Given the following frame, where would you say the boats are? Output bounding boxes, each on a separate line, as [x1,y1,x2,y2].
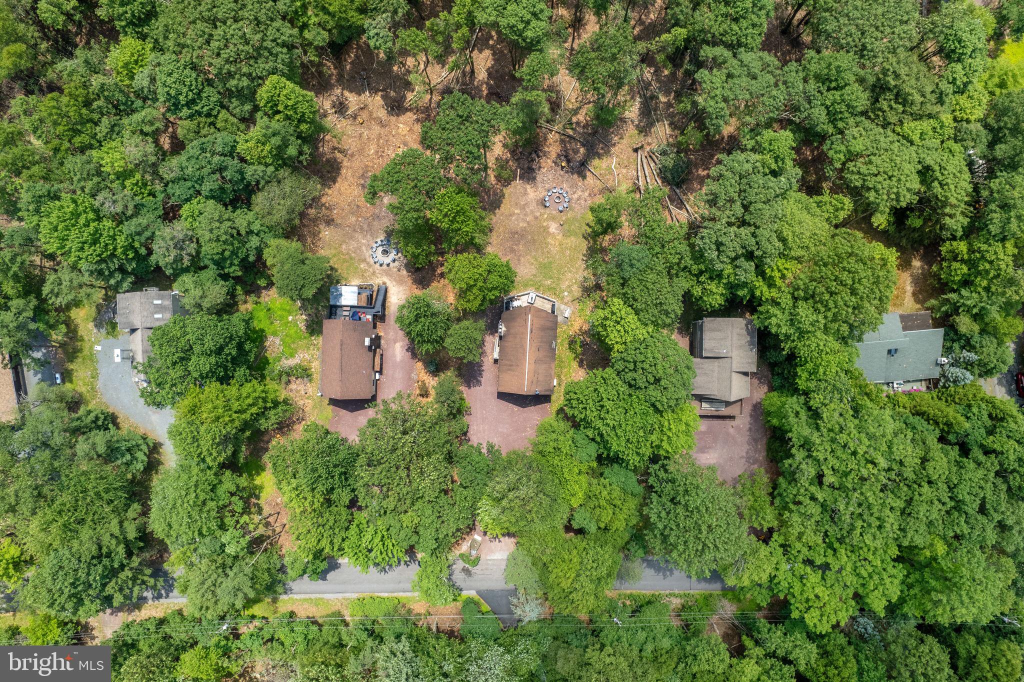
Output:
[469,534,485,557]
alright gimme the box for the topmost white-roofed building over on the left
[330,286,360,304]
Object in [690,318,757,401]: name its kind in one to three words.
house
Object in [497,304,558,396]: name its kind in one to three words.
house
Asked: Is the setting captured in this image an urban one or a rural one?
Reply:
rural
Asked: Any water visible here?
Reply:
No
